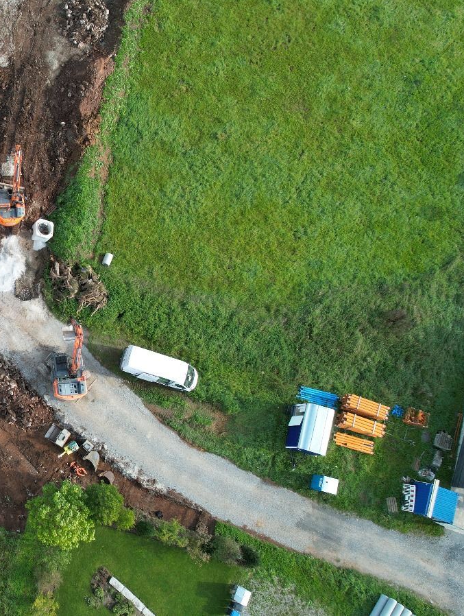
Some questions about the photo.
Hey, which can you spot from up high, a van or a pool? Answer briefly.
van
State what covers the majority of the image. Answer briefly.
grass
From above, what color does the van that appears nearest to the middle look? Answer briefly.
white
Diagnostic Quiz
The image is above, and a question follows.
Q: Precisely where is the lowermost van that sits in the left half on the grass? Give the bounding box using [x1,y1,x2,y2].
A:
[119,344,199,389]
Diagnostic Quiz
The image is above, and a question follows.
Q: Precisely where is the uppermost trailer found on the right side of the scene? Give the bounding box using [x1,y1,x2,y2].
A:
[287,402,332,468]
